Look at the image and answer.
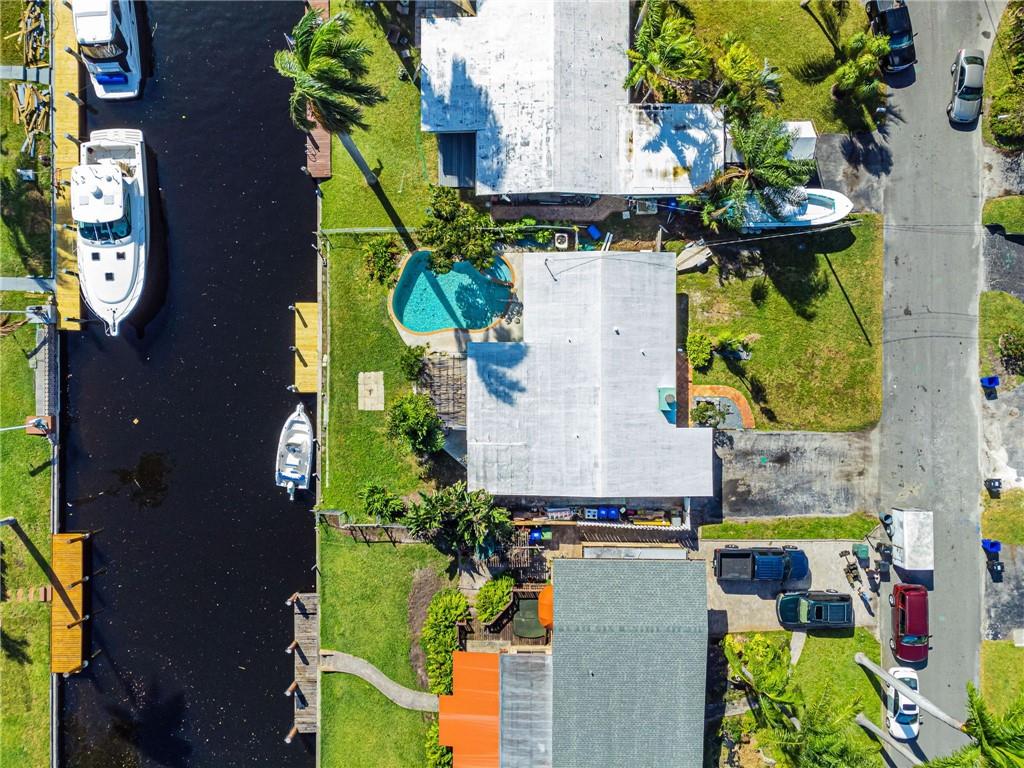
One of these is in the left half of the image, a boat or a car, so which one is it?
boat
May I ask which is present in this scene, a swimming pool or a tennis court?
swimming pool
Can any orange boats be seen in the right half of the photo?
No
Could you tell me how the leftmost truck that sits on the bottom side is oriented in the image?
from left to right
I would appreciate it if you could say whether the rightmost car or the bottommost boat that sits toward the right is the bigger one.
the car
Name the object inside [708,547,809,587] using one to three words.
truck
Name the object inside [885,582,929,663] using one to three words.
car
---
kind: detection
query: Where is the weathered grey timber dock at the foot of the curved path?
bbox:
[293,592,318,733]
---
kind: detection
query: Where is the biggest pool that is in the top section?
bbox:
[388,248,518,335]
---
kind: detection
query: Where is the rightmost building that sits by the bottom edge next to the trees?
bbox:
[551,541,709,768]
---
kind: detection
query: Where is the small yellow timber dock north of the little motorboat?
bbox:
[295,303,317,392]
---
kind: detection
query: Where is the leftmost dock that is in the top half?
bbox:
[55,0,88,330]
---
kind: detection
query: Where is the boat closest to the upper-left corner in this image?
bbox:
[64,0,145,104]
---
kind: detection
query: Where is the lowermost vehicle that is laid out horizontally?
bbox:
[773,592,855,632]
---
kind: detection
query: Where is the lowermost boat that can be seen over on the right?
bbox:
[676,232,720,277]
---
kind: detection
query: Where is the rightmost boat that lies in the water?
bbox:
[277,402,315,501]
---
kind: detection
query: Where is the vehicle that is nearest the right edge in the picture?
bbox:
[943,47,986,127]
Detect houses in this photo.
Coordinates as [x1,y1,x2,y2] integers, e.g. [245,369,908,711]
[551,541,709,768]
[467,251,713,498]
[421,0,725,205]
